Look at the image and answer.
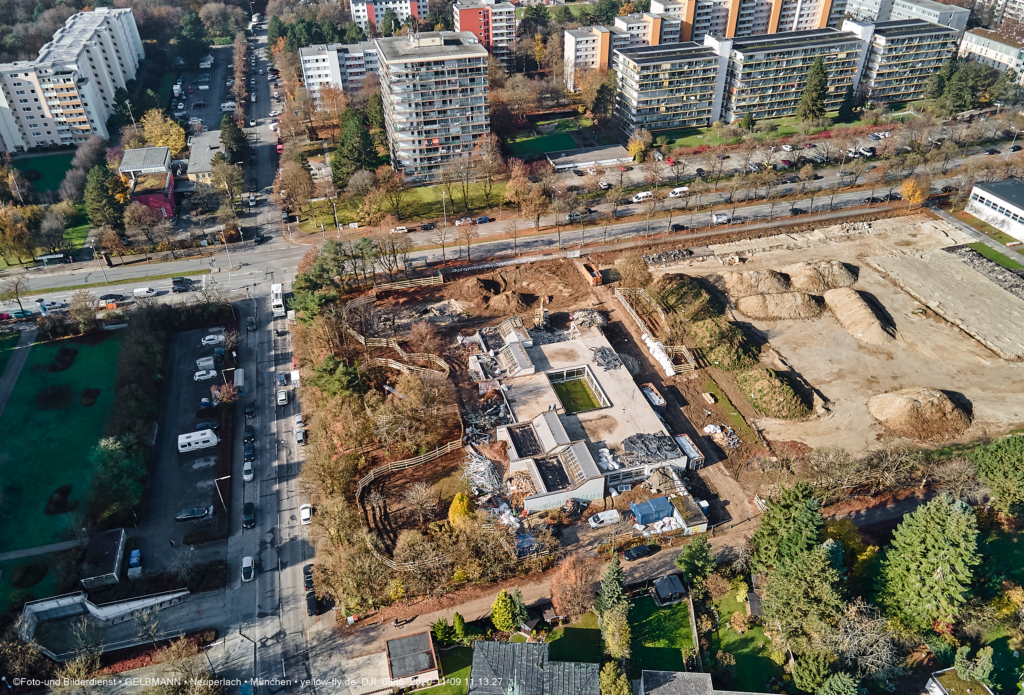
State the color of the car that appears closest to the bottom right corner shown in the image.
black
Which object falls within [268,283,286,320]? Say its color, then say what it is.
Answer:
white vehicle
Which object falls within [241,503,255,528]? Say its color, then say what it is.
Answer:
black car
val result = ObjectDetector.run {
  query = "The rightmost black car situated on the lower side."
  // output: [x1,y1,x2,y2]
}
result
[623,542,651,565]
